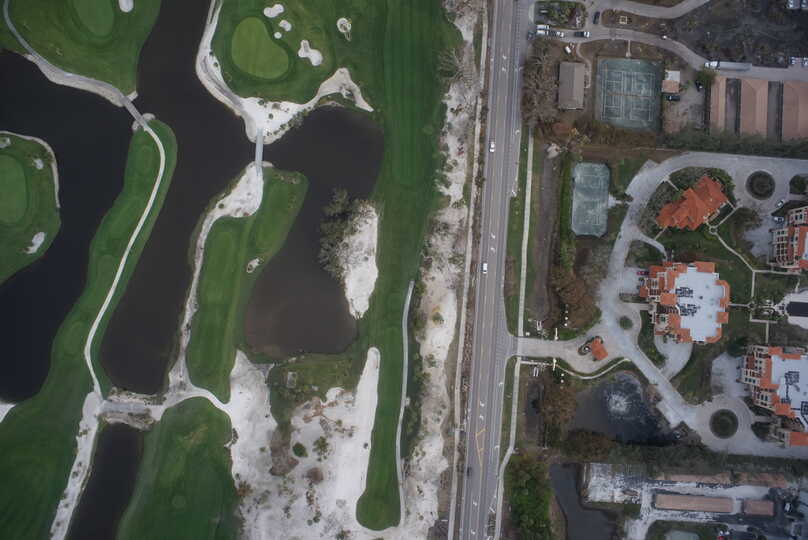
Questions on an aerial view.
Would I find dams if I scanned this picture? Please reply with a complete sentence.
No, no dam is visible in the scene.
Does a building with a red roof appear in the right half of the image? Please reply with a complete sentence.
Yes, a building with a red roof can be seen in the right half of the image.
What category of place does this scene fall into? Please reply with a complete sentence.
What you see here is a golf course.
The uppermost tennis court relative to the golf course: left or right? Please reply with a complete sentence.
You can see the uppermost tennis court positioned to the right of the golf course.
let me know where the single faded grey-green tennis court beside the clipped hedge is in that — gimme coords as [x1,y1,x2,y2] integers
[572,161,612,237]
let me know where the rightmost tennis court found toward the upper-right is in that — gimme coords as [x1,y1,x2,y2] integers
[596,54,667,131]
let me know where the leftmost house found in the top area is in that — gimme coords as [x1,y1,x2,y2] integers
[558,60,585,111]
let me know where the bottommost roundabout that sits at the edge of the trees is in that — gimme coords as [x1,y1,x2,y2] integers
[705,404,743,442]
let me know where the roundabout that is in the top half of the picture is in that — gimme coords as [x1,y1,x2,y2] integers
[744,167,778,202]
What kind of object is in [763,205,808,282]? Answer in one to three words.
building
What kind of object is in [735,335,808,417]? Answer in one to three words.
building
